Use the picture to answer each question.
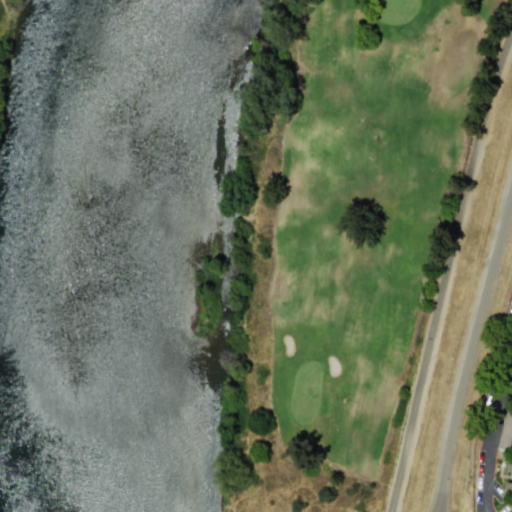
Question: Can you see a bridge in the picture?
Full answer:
No, the scene contains no bridge.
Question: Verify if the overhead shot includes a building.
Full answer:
No, no building is visible in the scene.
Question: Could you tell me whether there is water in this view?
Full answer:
Yes, some water is visible.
